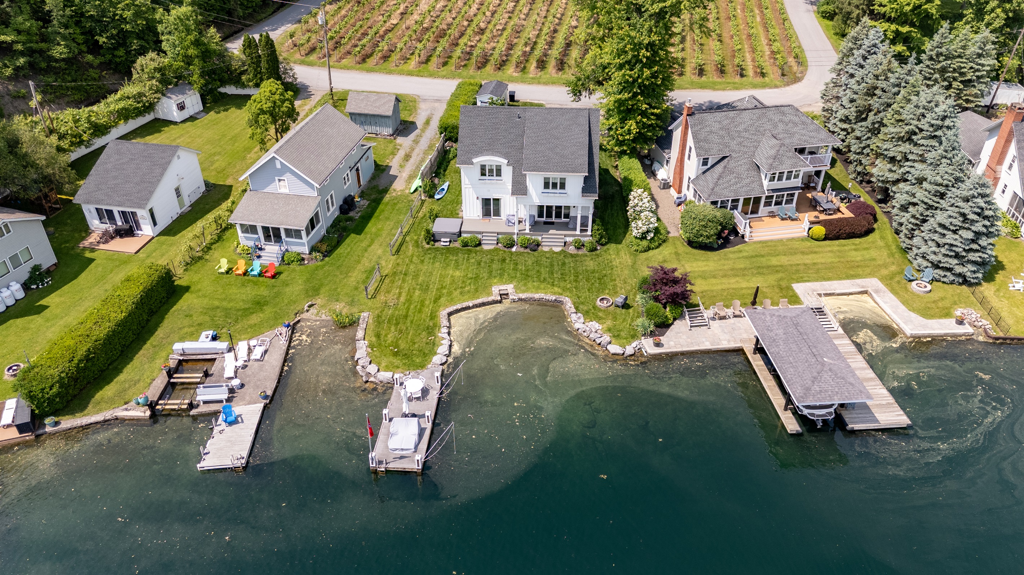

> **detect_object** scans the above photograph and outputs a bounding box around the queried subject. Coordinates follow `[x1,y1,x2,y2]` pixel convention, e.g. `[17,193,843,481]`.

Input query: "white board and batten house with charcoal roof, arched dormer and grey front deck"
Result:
[456,105,600,247]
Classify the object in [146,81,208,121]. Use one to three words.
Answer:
shed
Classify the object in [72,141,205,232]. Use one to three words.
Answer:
house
